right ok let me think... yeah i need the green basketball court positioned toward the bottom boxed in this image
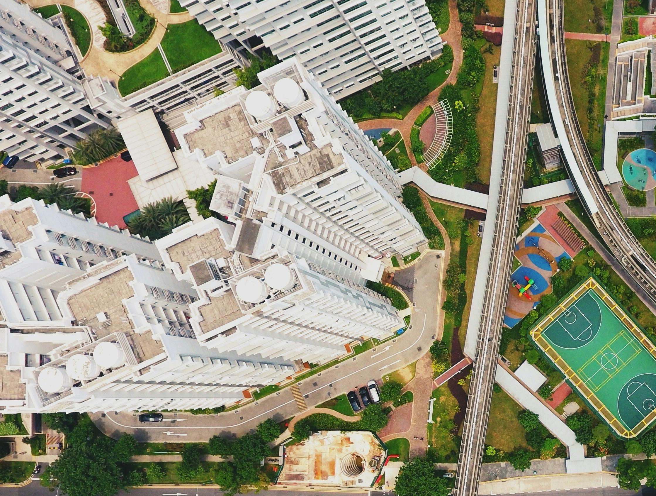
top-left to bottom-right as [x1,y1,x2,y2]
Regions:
[527,273,656,440]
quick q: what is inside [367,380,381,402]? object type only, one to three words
vehicle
